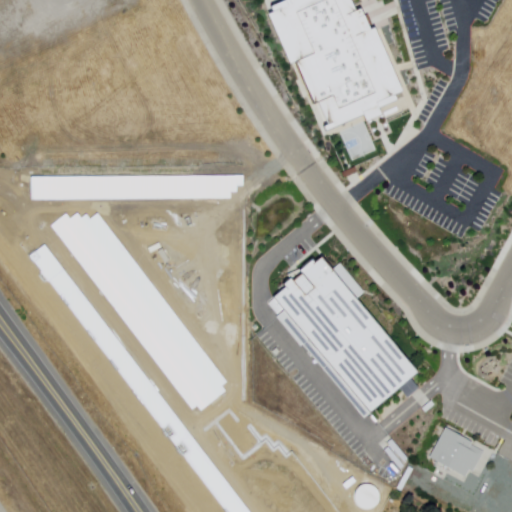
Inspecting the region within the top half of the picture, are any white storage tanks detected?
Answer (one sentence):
No, I see no white storage tank within the top half of the picture.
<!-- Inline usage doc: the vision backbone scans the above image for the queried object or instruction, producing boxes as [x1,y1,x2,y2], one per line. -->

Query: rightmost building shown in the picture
[430,426,484,476]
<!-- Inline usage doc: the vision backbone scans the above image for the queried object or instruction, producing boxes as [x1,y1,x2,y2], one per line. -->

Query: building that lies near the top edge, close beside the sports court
[268,0,402,130]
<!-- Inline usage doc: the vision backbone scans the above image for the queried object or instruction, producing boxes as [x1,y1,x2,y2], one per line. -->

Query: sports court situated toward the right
[340,121,376,161]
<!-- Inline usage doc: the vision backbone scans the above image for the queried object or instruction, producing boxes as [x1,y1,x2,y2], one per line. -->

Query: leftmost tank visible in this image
[352,481,382,511]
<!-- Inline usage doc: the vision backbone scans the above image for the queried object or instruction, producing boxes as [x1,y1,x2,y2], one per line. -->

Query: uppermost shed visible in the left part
[31,175,244,200]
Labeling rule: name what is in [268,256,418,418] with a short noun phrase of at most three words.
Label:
building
